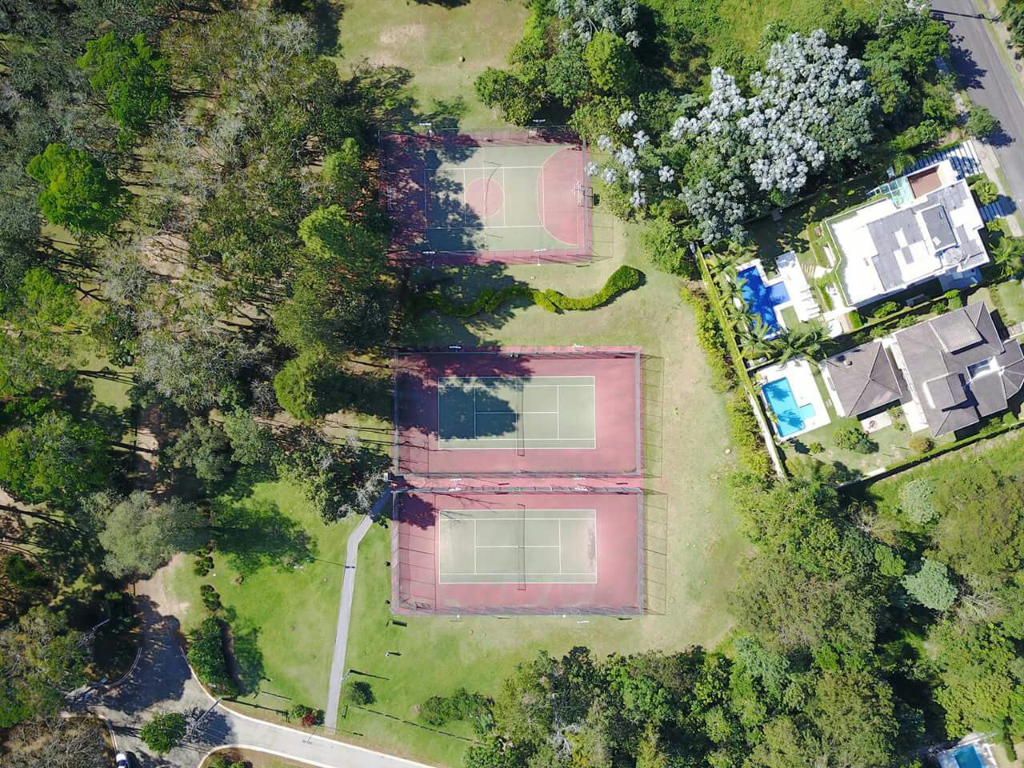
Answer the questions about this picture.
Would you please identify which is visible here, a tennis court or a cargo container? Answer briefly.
tennis court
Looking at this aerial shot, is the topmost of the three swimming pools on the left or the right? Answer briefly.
right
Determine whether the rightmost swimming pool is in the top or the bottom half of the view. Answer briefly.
bottom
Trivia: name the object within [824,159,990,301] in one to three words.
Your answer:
house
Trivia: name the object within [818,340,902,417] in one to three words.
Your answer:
building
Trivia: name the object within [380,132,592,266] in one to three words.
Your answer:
sports court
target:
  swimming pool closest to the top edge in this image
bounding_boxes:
[736,251,820,340]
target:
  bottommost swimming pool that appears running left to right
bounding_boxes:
[938,747,989,768]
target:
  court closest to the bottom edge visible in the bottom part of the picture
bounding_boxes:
[392,490,644,615]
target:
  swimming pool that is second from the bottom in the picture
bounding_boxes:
[758,357,831,442]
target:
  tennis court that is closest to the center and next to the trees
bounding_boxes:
[391,346,643,478]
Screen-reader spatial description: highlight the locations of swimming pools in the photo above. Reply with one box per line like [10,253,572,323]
[758,357,831,442]
[938,747,989,768]
[736,251,820,340]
